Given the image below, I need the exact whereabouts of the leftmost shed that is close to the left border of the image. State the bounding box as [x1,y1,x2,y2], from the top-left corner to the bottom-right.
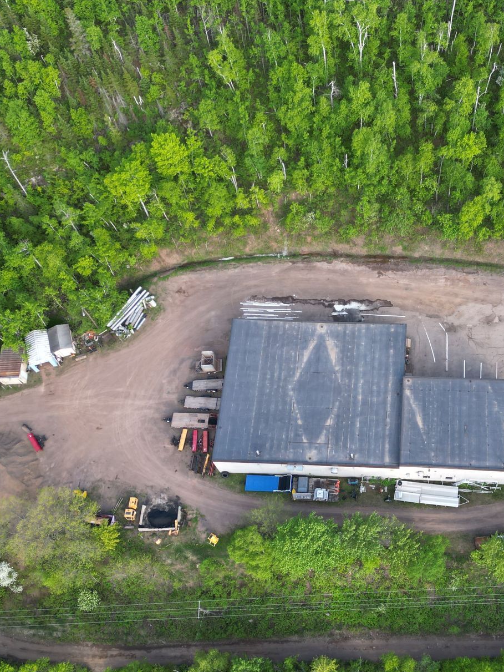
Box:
[0,347,29,384]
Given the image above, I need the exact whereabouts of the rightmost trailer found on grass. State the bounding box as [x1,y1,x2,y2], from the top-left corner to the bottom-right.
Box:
[394,481,469,508]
